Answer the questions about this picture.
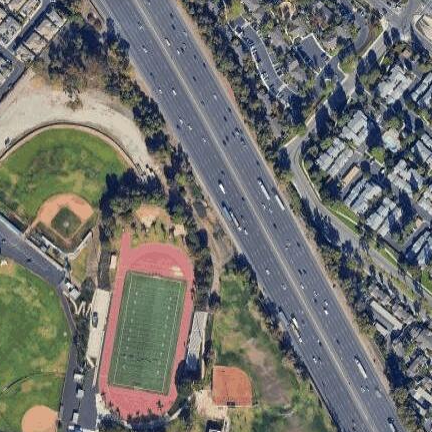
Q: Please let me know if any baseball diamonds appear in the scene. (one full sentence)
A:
Yes, this view includes a baseball diamond.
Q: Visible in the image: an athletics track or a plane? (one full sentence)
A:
The image shows an athletics track.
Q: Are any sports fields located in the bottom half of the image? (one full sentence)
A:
Yes, a sports field appears in the bottom half of the image.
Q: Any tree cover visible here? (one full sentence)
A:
Yes, tree cover shows up in the scene.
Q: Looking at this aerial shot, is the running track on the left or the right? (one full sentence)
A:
It is on the left.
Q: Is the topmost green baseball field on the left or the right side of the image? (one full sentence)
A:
The topmost green baseball field sits on the left side.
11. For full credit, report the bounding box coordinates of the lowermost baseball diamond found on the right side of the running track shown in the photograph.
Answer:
[212,366,252,406]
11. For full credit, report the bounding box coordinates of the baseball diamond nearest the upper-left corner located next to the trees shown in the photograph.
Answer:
[0,125,134,254]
